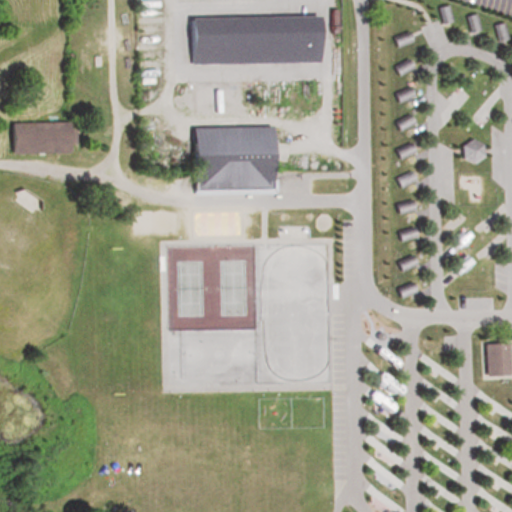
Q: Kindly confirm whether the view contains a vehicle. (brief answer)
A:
Yes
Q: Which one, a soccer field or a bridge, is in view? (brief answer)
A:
soccer field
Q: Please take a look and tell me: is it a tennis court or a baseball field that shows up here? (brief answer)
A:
tennis court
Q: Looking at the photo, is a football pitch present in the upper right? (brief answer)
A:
No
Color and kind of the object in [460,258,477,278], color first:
white vehicle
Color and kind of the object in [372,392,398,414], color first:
white vehicle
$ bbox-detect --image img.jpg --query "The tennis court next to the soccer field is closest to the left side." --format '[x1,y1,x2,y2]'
[169,248,212,329]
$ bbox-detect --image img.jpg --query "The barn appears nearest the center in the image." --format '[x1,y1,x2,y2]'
[196,126,277,190]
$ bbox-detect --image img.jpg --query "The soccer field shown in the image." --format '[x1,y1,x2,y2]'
[92,246,157,398]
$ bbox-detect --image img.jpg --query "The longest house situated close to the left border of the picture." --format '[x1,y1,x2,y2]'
[13,123,78,158]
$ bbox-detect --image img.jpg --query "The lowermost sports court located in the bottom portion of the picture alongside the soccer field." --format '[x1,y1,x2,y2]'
[170,331,256,386]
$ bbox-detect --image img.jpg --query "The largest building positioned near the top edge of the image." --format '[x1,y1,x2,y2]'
[194,17,326,64]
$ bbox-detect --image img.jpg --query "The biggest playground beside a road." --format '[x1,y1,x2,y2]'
[460,176,482,203]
